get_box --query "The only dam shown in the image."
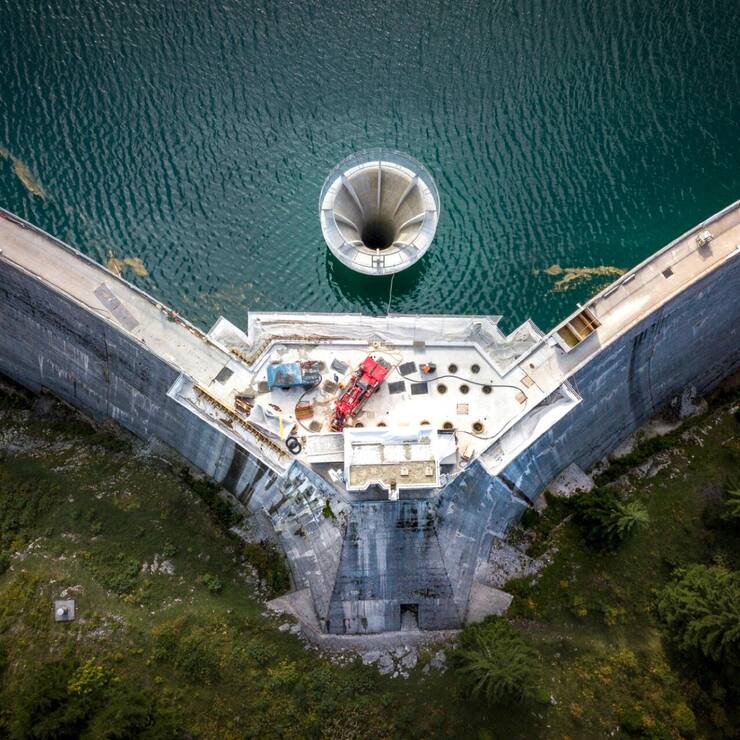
[0,199,740,632]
